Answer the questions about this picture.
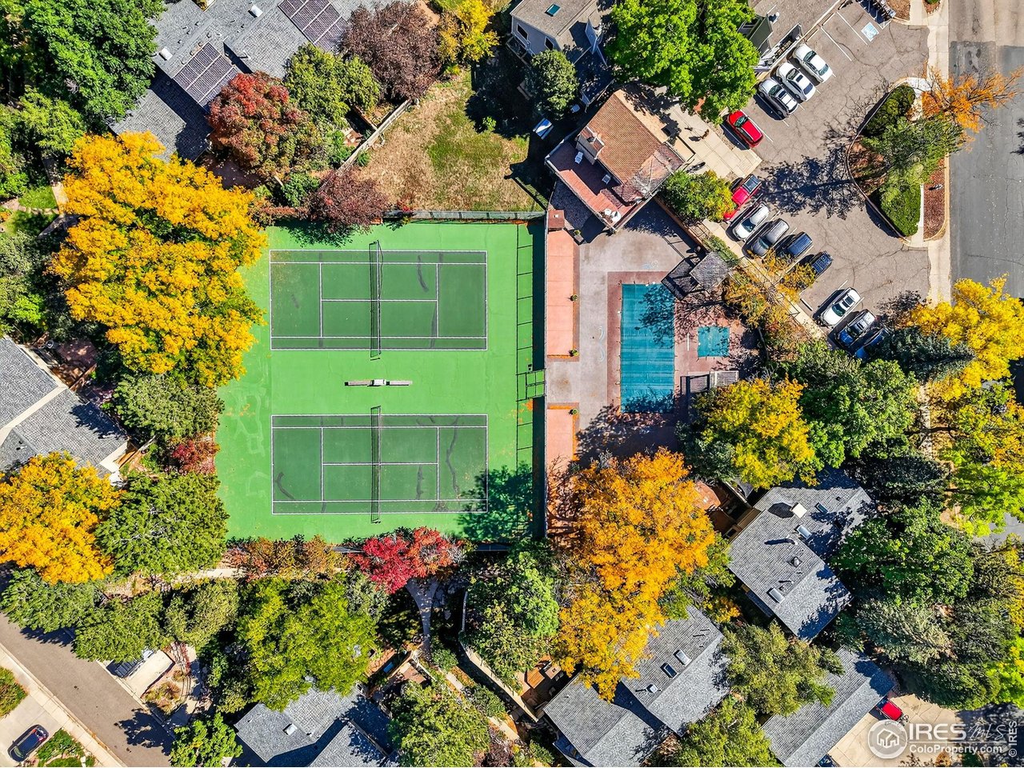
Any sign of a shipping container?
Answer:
No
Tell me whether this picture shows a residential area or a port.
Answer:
residential area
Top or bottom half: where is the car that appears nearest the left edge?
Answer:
bottom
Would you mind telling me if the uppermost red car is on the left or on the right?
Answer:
right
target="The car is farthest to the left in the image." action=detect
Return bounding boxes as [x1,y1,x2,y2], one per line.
[8,721,52,763]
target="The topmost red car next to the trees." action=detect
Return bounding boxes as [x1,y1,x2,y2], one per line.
[726,112,764,150]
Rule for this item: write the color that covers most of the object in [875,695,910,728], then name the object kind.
red car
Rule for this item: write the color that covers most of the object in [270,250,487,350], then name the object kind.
green tennis court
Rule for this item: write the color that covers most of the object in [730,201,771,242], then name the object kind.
white car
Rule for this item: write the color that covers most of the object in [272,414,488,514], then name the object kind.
green tennis court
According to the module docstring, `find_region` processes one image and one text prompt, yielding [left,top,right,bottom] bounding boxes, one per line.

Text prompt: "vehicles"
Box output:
[730,201,771,242]
[818,287,861,327]
[853,326,889,362]
[793,248,834,288]
[8,721,52,763]
[770,227,814,270]
[721,174,765,221]
[726,112,764,150]
[792,44,833,86]
[756,79,797,121]
[113,648,164,684]
[875,695,910,728]
[834,308,877,348]
[749,218,791,259]
[775,62,816,104]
